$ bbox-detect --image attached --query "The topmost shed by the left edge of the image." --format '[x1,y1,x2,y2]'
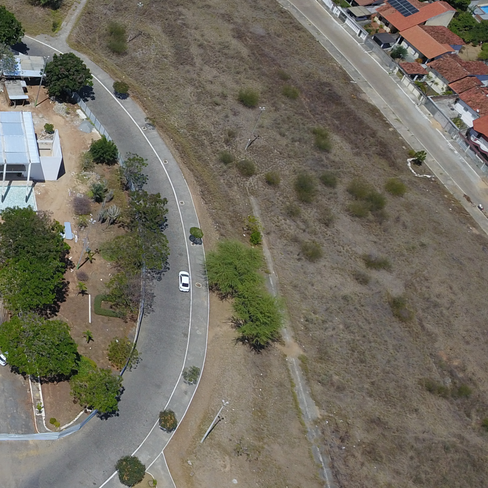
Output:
[1,55,46,85]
